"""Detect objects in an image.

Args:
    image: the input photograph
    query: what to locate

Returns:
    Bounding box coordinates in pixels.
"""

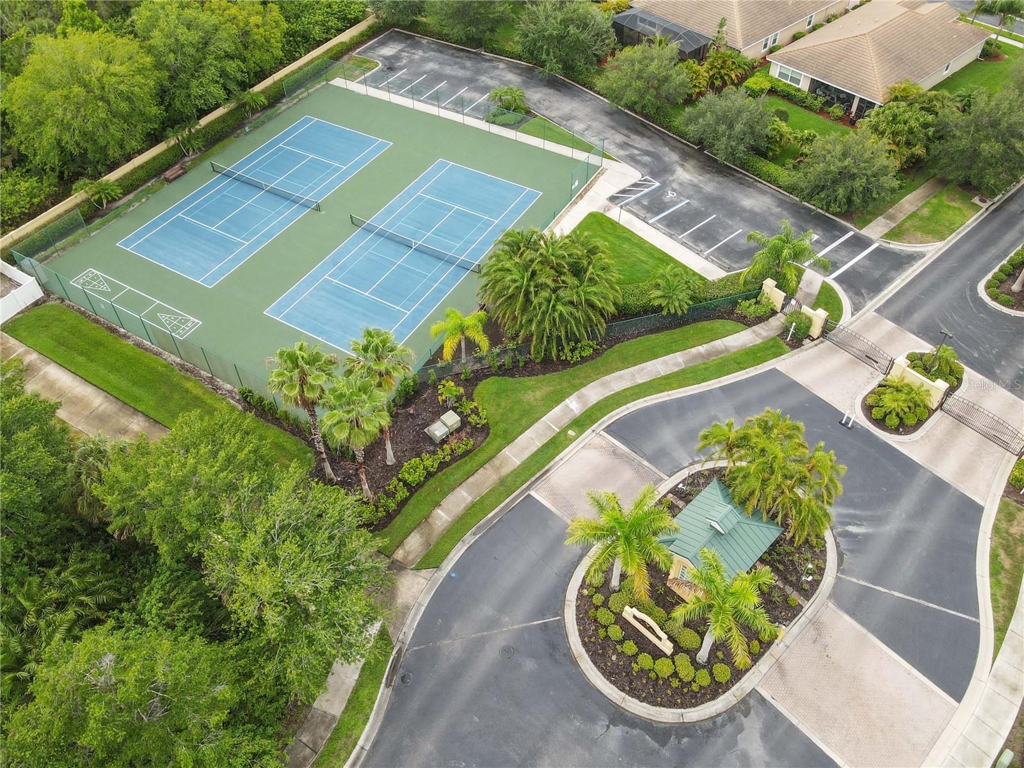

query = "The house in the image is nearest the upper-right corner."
[765,0,988,123]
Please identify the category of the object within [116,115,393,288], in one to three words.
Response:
tennis court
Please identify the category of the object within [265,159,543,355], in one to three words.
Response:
tennis court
